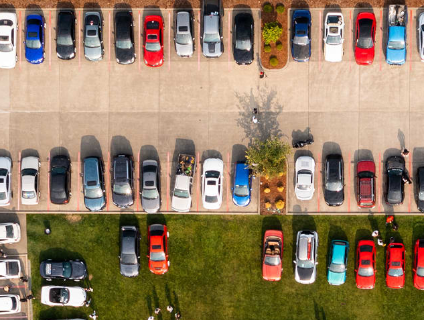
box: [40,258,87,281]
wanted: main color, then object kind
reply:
black car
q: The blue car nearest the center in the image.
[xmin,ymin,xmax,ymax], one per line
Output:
[230,160,254,208]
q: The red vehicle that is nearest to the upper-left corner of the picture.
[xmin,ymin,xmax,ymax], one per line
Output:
[141,14,165,68]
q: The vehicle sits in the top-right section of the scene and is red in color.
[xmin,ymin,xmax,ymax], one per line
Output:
[354,12,378,66]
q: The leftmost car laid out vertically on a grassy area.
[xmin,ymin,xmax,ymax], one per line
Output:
[118,225,141,277]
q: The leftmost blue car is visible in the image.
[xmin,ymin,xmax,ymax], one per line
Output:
[23,14,47,65]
